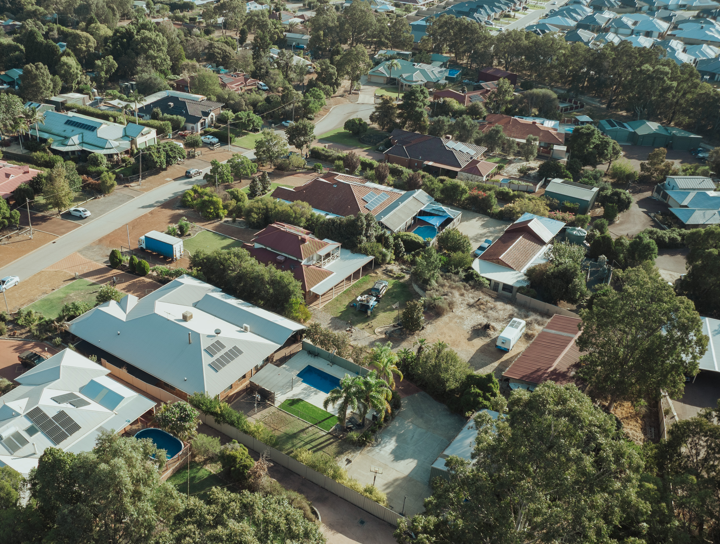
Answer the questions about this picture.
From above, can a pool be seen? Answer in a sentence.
Yes, this view includes a pool.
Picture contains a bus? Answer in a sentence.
Yes, there's a bus here.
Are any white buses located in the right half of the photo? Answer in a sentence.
Yes, the scene does show a white bus in the right half of the photo.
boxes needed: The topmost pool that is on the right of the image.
[445,68,462,86]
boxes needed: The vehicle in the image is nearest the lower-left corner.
[11,347,50,366]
